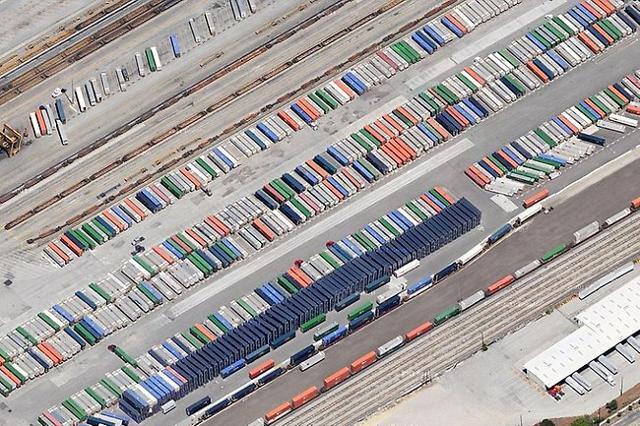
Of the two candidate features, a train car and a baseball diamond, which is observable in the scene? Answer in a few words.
train car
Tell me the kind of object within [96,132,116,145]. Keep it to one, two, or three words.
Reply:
rail car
